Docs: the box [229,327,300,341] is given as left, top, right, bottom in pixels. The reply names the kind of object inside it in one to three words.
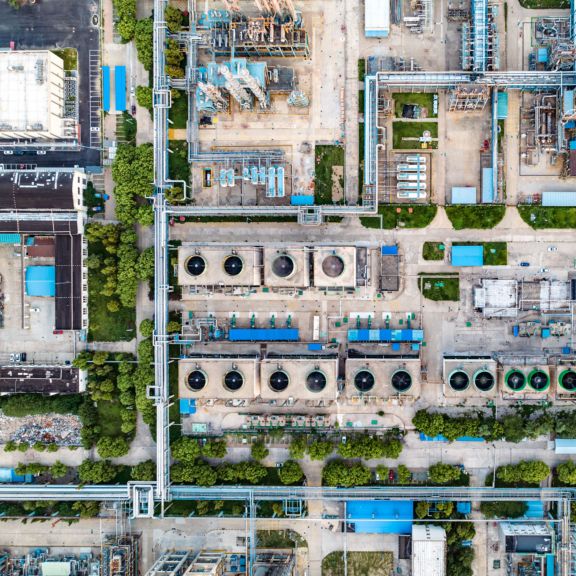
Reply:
building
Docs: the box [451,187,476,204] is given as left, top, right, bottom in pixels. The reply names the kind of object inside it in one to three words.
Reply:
shed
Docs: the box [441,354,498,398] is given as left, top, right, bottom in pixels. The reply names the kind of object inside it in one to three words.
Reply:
cooling tower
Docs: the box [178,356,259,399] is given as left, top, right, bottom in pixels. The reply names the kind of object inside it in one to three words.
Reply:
cooling tower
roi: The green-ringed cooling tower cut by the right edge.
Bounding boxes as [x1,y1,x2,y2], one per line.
[550,361,576,394]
